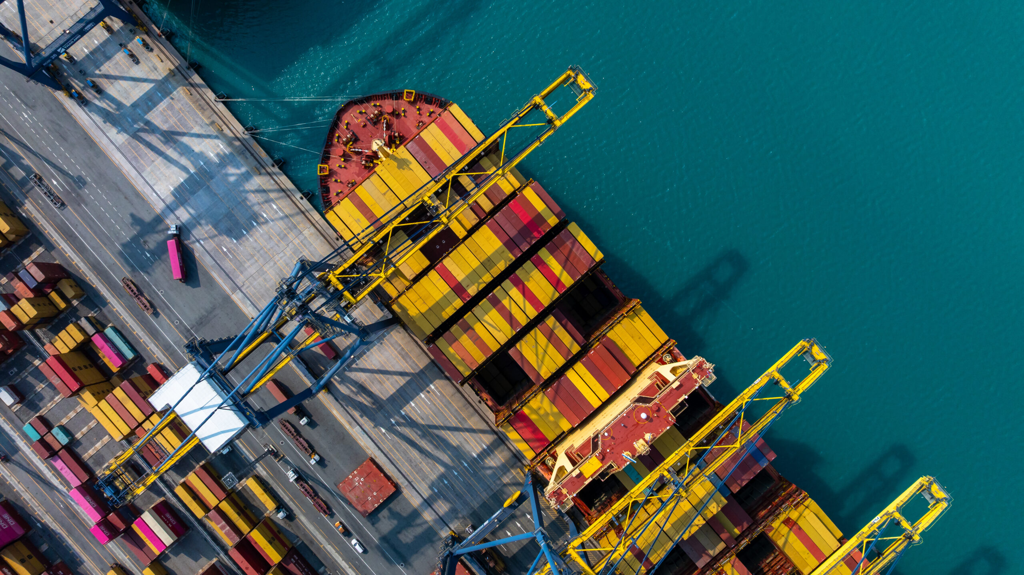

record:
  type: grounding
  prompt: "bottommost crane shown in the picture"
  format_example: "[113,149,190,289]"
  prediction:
[803,472,954,575]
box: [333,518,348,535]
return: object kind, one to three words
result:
vehicle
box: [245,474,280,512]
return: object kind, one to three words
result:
shipping container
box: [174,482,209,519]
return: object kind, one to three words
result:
shipping container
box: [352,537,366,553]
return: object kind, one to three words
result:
car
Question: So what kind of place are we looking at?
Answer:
port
